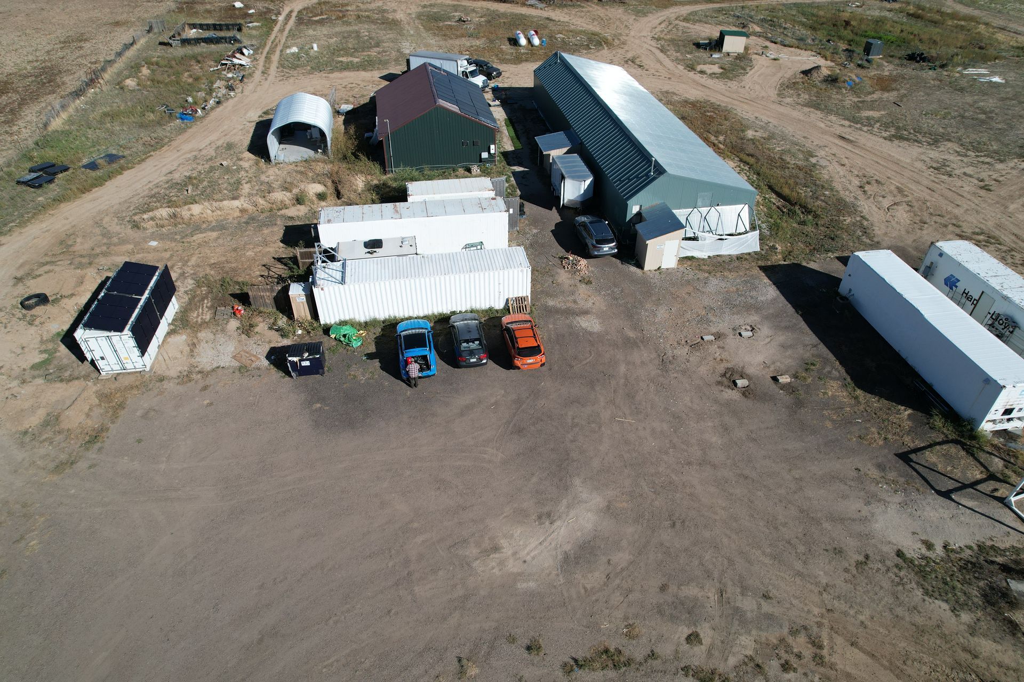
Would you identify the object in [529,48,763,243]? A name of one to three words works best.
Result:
building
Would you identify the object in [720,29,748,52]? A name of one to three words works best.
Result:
shed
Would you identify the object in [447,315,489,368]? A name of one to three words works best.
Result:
car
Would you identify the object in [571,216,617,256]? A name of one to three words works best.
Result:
car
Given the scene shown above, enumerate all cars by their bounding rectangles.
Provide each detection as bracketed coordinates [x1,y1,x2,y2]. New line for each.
[571,216,617,256]
[447,315,489,368]
[464,60,502,84]
[504,314,549,368]
[395,321,438,380]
